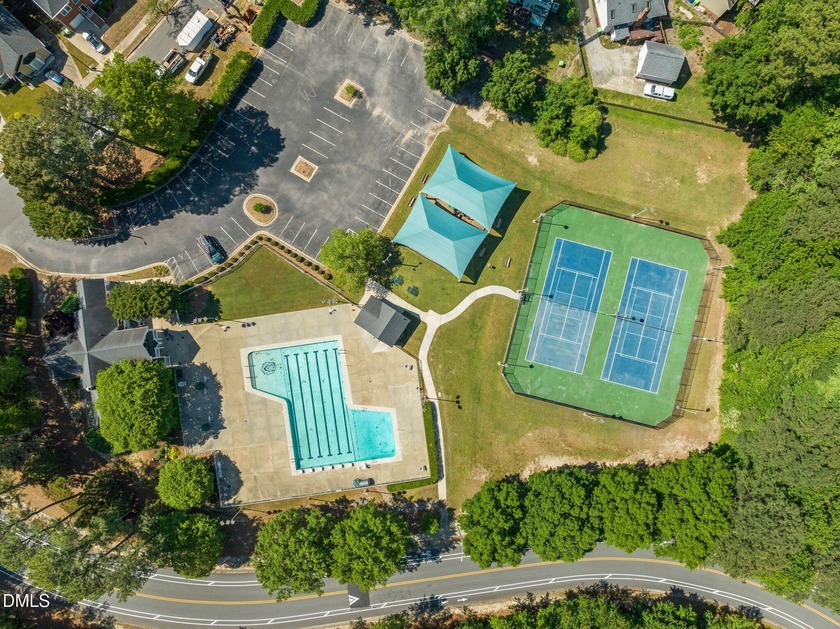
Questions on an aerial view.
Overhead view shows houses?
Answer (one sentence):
Yes, the image includes a house.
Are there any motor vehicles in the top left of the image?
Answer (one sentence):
Yes, a motor vehicle shows up in the top left of the image.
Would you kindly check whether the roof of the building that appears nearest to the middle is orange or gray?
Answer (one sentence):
In this view, the roof of the building that appears nearest to the middle is gray.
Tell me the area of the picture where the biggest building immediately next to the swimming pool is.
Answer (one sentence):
The biggest building immediately next to the swimming pool appears toward the left of the photo.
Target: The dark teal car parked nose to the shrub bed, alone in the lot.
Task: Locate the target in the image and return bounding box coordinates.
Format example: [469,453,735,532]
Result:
[201,233,224,264]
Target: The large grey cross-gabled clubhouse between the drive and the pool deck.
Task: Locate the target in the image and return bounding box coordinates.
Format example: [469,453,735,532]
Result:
[44,279,180,388]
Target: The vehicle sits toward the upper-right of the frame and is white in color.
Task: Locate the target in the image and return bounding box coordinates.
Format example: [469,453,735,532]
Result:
[645,82,678,98]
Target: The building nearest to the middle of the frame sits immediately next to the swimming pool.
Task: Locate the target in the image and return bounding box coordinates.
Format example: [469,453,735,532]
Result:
[354,295,411,346]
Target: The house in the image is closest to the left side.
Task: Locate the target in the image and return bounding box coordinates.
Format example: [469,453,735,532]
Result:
[0,2,68,103]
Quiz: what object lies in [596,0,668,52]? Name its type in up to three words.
house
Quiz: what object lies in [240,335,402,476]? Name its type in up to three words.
swimming pool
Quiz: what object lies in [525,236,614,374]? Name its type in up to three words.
tennis court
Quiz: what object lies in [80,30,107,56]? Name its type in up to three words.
car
